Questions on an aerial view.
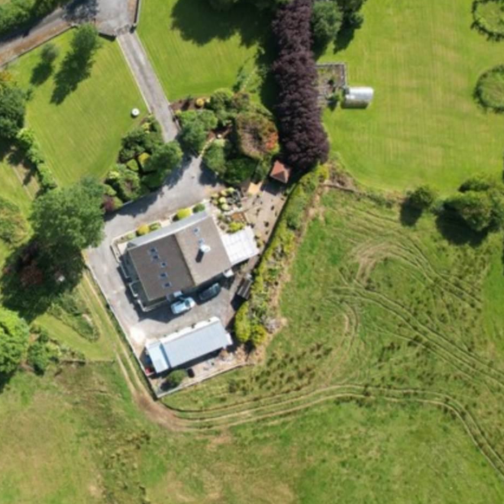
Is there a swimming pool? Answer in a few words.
No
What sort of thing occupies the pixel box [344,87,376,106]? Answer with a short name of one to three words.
greenhouse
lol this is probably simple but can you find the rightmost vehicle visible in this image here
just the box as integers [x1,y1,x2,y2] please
[196,284,222,302]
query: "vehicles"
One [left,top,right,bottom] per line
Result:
[196,284,222,302]
[170,297,195,315]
